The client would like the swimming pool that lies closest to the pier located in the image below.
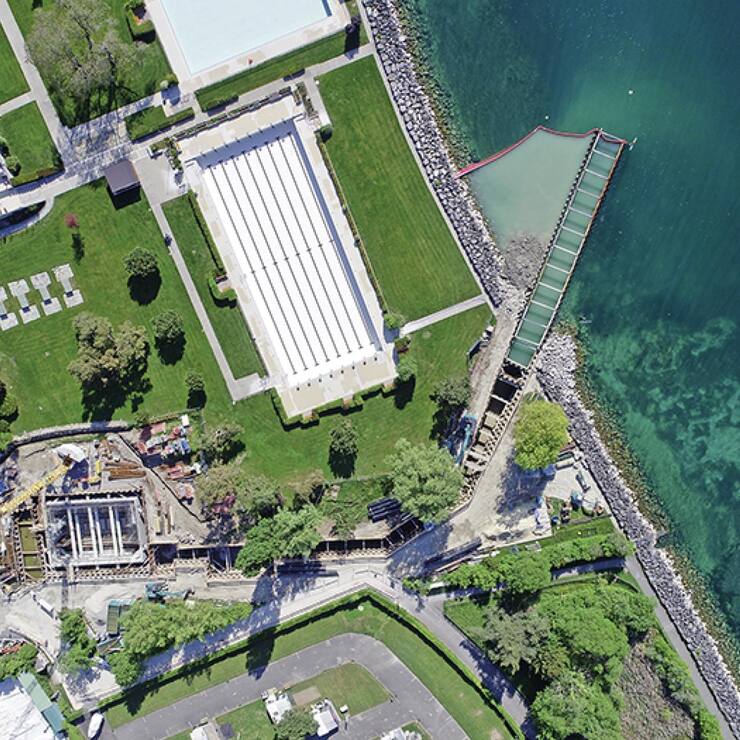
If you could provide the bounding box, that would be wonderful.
[183,112,386,388]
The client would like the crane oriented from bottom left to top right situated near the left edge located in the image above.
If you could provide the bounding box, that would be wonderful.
[0,458,72,513]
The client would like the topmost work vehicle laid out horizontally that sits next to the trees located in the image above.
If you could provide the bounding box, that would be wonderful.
[141,581,193,597]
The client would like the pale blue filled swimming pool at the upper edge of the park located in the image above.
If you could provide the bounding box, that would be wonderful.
[158,0,334,79]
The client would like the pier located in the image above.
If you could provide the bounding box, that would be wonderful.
[507,129,629,369]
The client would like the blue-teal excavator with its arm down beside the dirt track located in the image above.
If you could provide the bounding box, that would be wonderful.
[452,420,476,472]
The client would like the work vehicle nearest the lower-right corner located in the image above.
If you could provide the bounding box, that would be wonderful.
[577,473,591,494]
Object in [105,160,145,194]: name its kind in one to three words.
shed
